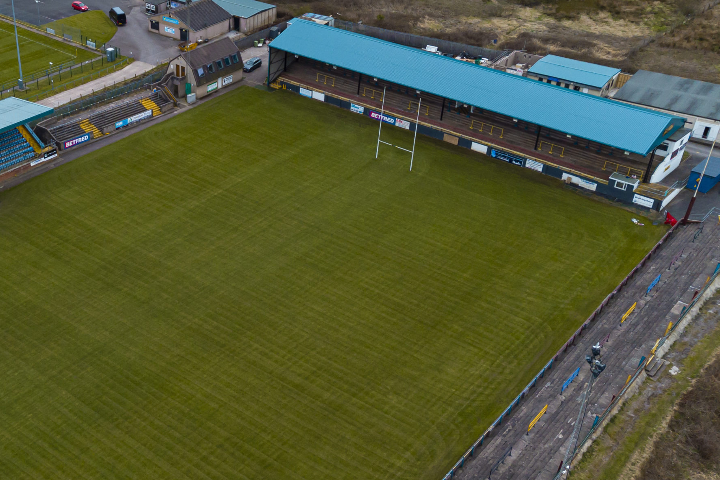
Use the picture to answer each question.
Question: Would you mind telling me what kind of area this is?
sports ground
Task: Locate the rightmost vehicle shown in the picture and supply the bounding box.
[244,56,266,71]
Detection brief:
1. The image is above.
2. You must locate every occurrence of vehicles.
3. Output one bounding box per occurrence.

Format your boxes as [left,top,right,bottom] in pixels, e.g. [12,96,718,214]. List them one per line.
[110,6,124,23]
[69,0,88,11]
[244,56,266,71]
